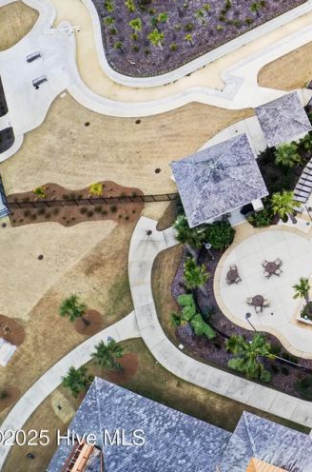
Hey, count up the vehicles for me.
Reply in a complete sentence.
I count no vehicles.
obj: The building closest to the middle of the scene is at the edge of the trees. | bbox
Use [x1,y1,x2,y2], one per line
[169,133,269,231]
